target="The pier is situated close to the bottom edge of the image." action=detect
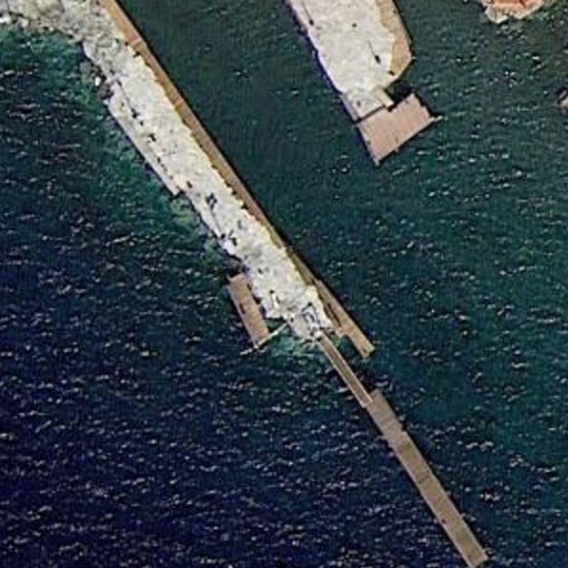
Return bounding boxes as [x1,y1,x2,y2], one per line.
[365,389,489,568]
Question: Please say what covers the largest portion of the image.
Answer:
water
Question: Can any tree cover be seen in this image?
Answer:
No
